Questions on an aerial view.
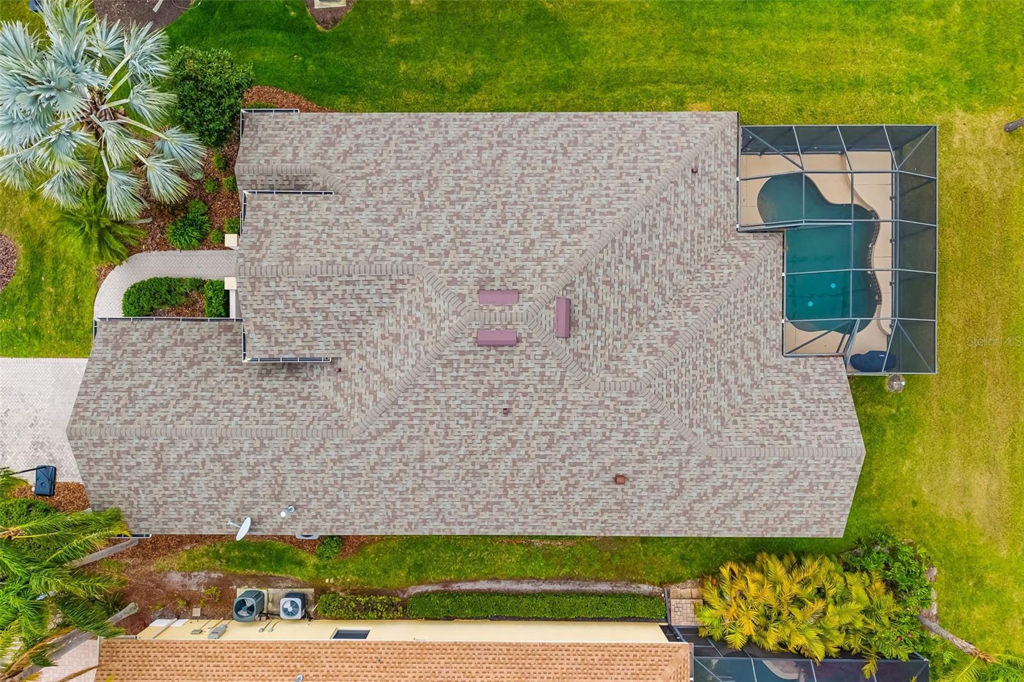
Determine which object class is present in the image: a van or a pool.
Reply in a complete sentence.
Visible in the photo is a pool.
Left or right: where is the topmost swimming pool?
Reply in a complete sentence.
The topmost swimming pool appears in the right half of the scene.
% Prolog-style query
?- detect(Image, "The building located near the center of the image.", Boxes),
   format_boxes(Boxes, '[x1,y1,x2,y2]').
[67,108,864,539]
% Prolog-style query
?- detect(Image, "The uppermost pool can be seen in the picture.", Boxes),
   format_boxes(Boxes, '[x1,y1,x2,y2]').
[758,172,882,334]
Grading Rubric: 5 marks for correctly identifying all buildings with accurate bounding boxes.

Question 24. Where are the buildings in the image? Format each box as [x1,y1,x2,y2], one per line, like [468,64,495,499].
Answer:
[89,617,699,682]
[67,108,864,539]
